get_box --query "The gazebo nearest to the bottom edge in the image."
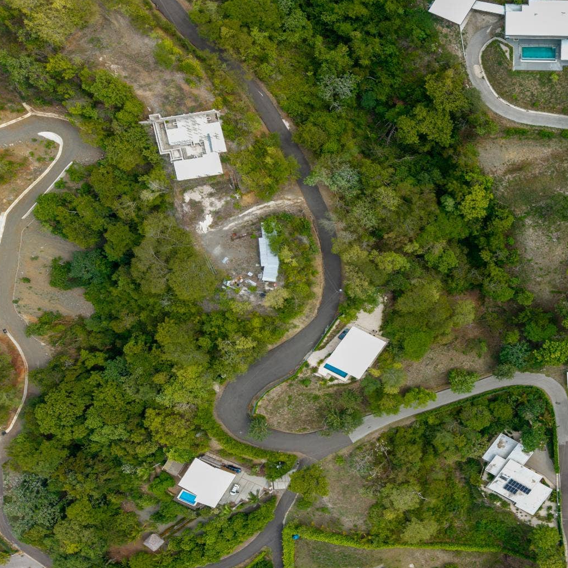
[143,531,168,550]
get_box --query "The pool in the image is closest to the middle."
[323,363,349,379]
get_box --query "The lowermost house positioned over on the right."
[484,433,552,515]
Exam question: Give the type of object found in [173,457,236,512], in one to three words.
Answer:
house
